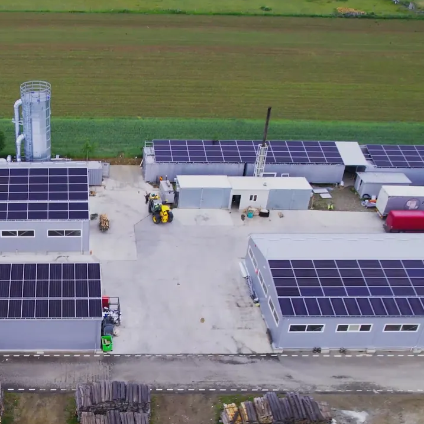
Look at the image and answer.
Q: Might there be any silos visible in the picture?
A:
Yes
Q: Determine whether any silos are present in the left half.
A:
Yes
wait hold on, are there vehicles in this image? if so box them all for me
[102,311,115,339]
[144,189,175,224]
[382,208,424,235]
[373,185,424,221]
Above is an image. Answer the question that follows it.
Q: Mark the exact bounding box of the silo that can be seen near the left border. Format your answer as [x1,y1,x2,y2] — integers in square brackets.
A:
[11,79,75,164]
